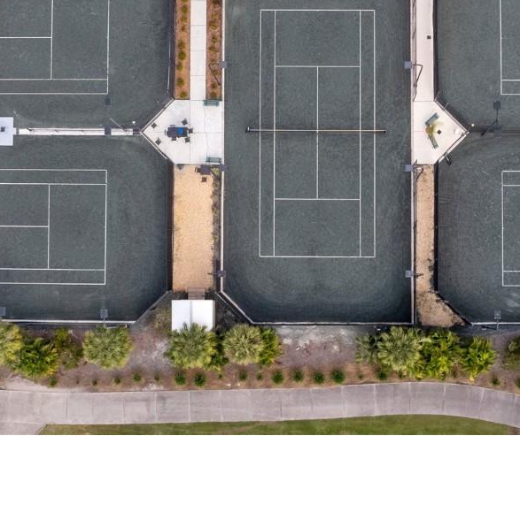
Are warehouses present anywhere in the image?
No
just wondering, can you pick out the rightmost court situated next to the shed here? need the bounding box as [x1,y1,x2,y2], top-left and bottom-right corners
[221,0,414,326]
